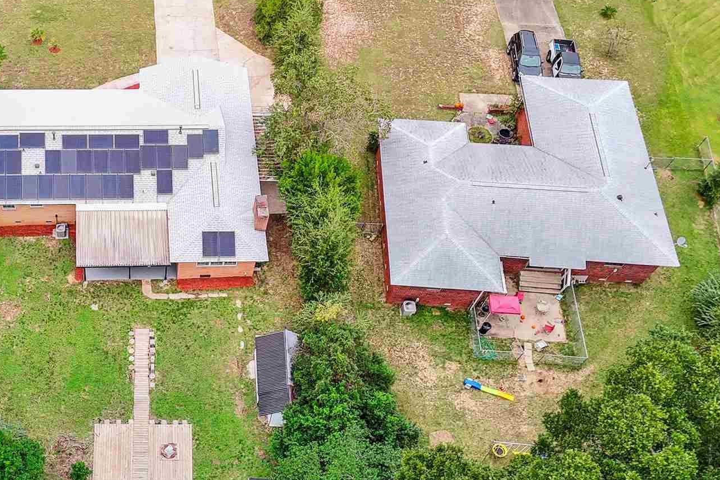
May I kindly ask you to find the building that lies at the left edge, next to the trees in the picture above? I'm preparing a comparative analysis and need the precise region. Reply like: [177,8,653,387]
[0,53,270,283]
